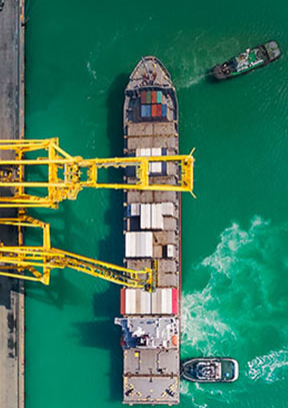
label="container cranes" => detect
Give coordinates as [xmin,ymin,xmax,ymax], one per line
[0,210,150,289]
[0,135,193,210]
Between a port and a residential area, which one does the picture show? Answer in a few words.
port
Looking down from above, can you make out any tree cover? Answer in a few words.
No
